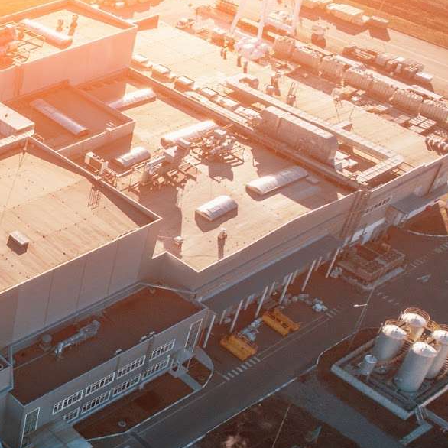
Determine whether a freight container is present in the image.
Yes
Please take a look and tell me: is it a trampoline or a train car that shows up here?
train car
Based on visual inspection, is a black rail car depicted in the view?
No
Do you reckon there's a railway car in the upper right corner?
Yes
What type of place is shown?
industrial area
